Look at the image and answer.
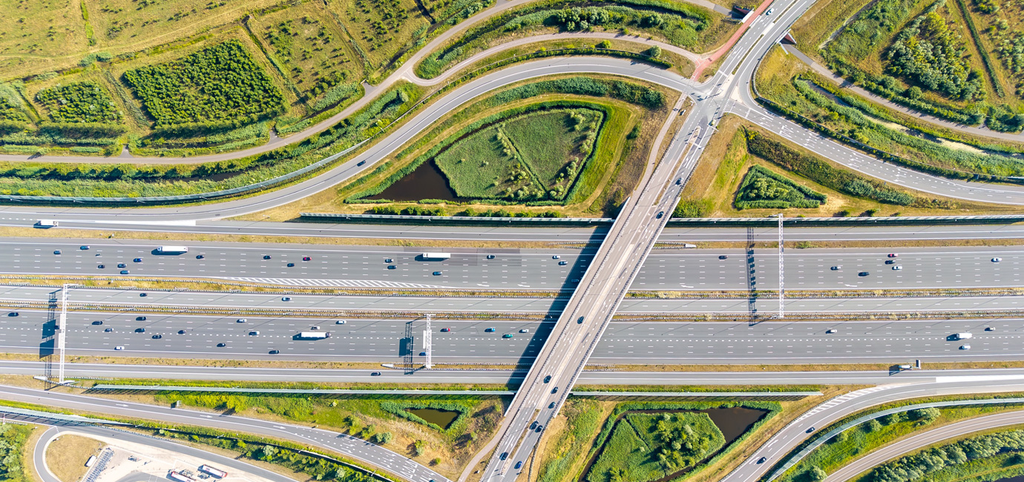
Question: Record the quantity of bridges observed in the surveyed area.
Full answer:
Altogether the scene contains 1 bridge.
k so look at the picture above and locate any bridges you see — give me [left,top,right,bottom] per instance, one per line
[505,194,682,422]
